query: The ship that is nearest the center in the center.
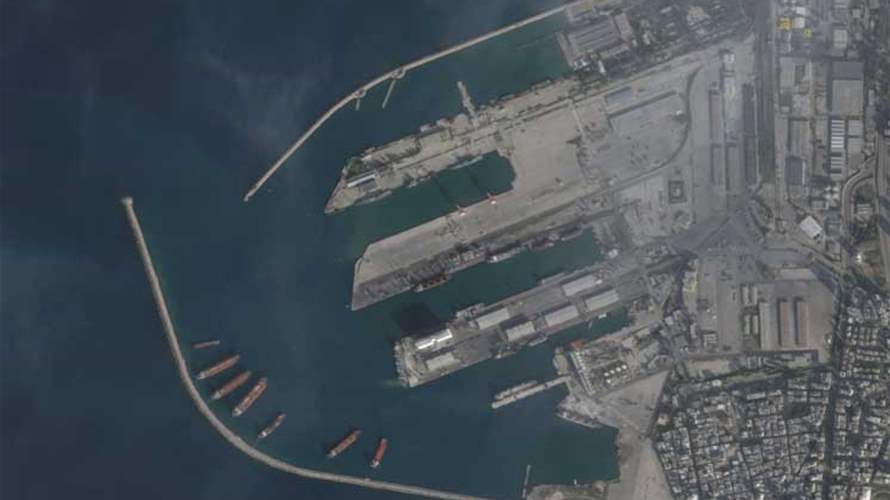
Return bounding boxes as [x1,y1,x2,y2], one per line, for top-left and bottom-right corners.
[414,277,450,292]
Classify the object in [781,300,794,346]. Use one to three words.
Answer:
building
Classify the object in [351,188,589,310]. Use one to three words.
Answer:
pier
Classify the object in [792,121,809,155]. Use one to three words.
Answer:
building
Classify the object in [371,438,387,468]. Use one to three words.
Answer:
ship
